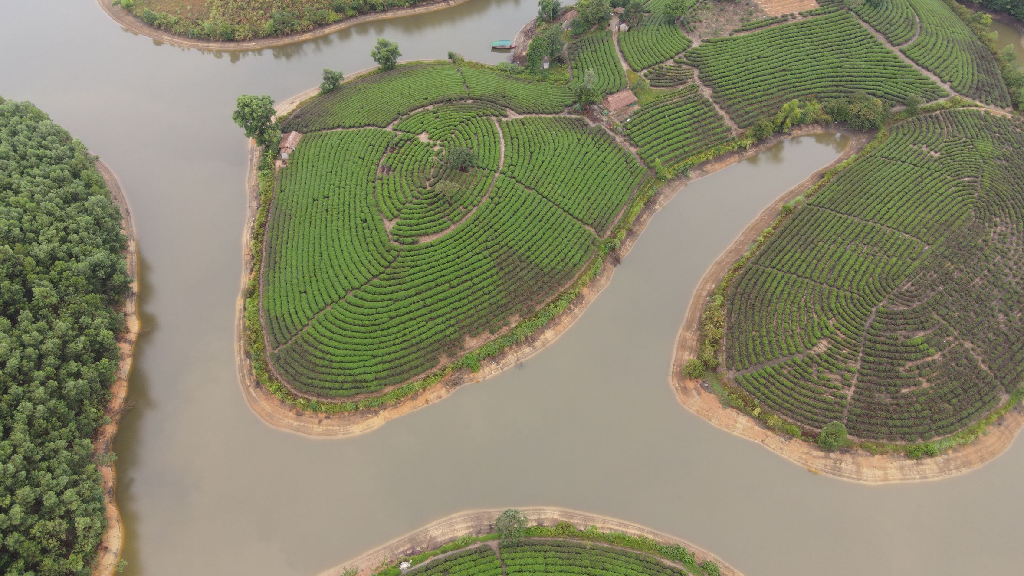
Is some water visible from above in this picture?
Yes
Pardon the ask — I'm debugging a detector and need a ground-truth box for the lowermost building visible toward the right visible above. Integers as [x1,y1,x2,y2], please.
[597,86,639,115]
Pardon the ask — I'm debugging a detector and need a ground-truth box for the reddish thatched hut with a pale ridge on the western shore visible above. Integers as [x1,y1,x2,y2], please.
[276,130,303,159]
